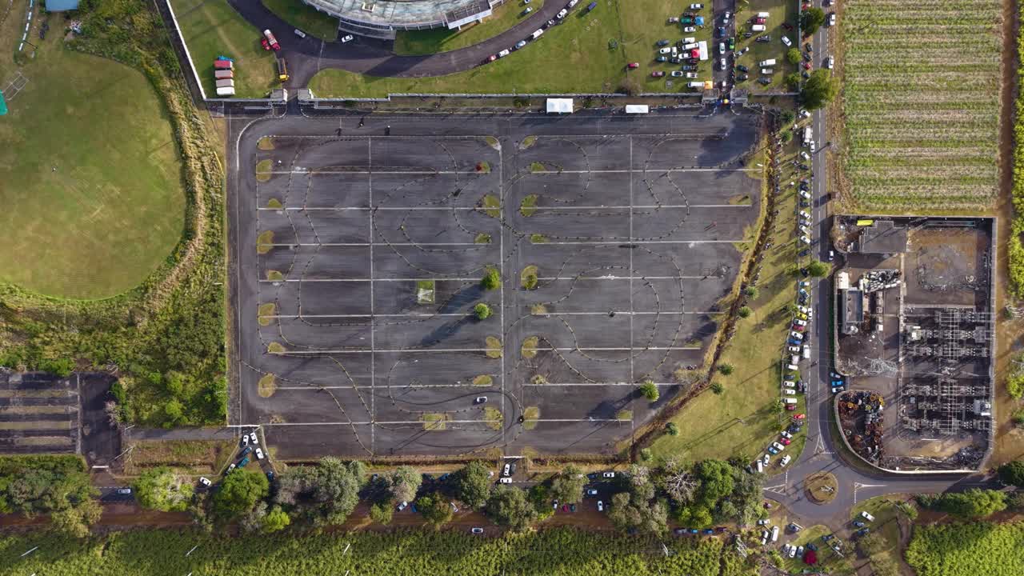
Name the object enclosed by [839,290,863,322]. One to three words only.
building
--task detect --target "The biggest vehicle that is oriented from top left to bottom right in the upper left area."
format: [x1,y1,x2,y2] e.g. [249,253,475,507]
[265,31,282,53]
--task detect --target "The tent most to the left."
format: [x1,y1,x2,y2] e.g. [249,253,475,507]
[546,98,573,114]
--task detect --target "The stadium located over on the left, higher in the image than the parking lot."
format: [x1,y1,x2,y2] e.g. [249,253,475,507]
[297,0,503,41]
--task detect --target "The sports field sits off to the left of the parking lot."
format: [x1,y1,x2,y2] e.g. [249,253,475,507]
[0,48,185,300]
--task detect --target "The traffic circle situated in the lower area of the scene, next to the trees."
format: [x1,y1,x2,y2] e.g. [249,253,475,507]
[787,453,856,522]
